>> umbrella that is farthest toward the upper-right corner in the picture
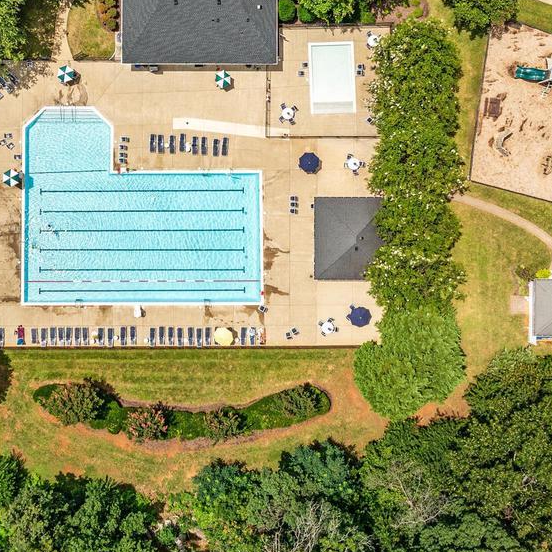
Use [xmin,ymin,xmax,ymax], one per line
[298,152,319,173]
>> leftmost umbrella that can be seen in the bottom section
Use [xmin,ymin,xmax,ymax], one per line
[213,326,233,347]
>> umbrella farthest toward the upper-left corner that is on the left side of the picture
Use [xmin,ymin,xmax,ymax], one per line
[57,66,77,84]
